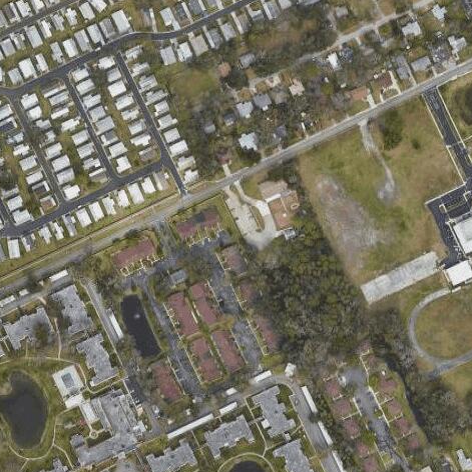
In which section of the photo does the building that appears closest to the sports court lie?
right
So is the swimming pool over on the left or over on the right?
left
